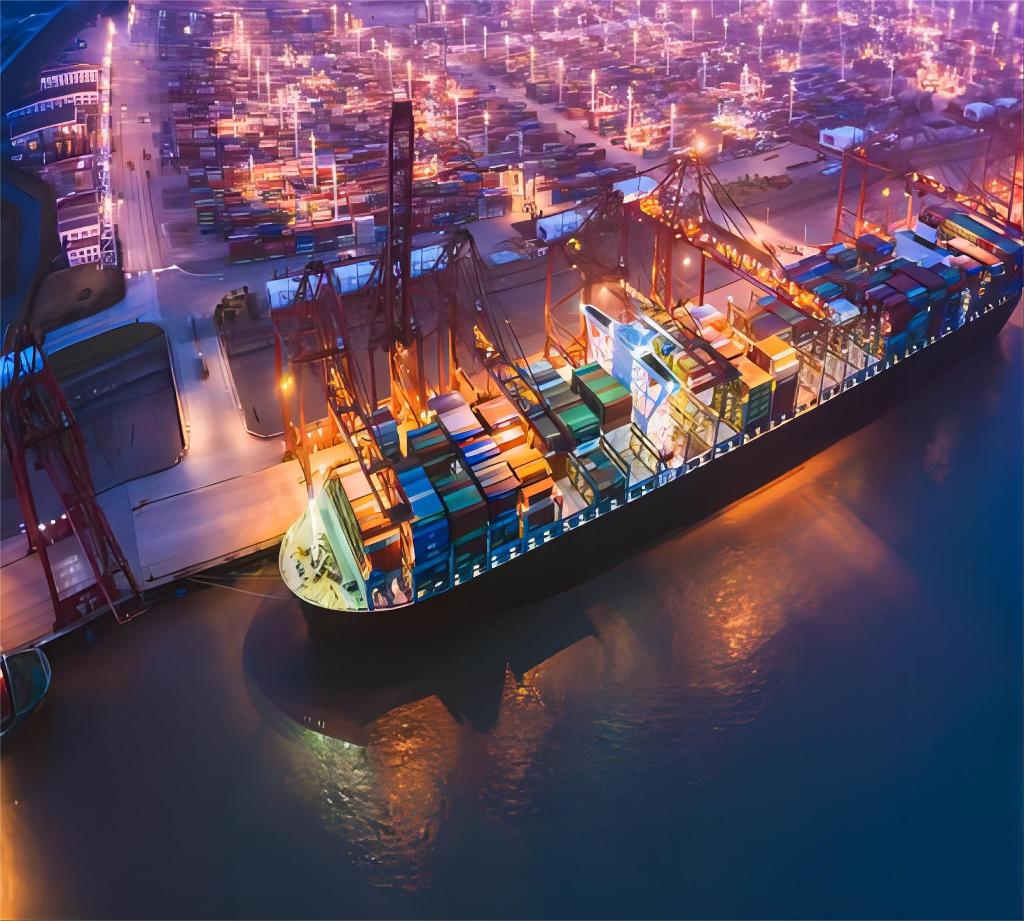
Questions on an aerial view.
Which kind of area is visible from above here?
port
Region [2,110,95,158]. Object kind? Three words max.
building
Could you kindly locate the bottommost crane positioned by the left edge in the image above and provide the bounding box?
[0,327,136,634]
